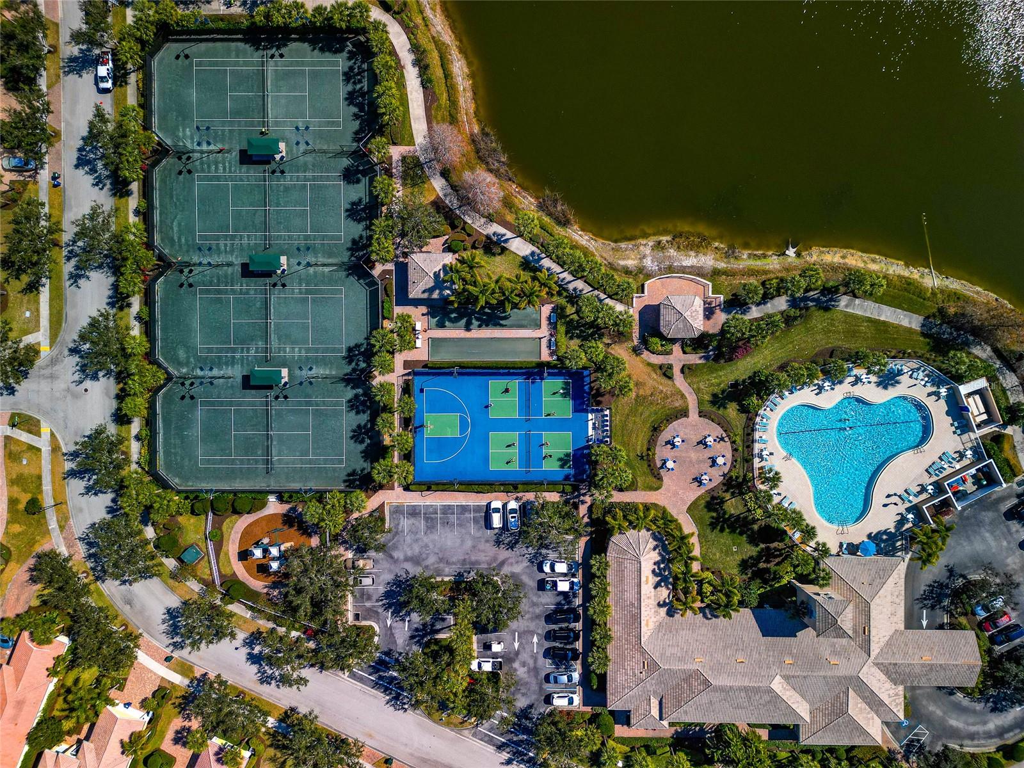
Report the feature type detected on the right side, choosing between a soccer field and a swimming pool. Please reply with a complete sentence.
Visible on the right side is a swimming pool.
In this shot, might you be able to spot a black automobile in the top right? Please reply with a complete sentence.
No, there's no black automobile to be seen in the top right.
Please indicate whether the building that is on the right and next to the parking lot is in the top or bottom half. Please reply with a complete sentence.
The building that is on the right and next to the parking lot is in the bottom half of the image.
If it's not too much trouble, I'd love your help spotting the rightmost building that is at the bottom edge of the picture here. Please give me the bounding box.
[607,529,982,745]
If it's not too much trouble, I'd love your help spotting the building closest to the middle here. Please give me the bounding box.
[407,252,453,299]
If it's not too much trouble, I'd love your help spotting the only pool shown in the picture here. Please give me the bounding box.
[753,360,985,556]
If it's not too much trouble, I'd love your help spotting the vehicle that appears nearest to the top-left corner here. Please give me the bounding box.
[96,51,114,90]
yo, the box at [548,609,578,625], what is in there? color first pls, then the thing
black car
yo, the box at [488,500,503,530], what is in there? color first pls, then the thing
white car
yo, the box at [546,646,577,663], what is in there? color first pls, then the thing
black car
